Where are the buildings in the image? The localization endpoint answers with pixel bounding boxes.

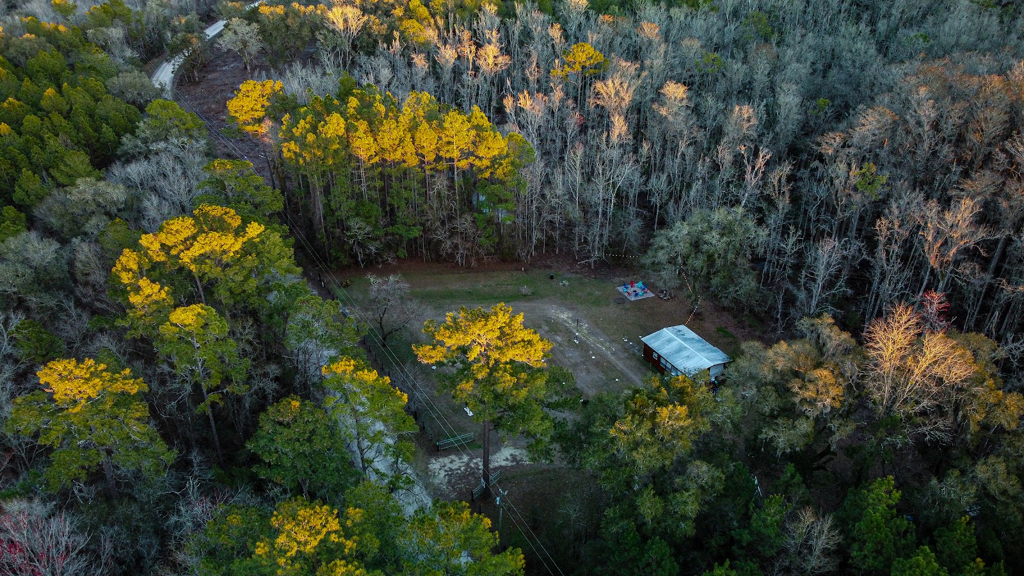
[643,323,729,388]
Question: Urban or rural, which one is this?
rural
